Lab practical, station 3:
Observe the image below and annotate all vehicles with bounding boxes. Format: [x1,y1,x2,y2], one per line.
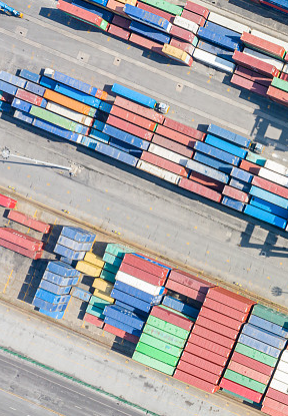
[155,102,171,113]
[250,142,265,154]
